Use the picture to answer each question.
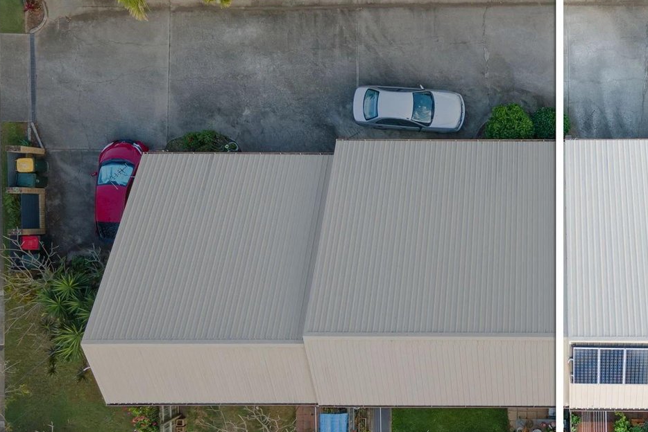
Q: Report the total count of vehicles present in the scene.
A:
2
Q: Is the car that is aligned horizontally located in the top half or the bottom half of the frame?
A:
top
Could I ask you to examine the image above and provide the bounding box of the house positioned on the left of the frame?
[81,149,335,409]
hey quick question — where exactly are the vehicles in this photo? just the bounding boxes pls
[355,86,464,132]
[96,142,146,238]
